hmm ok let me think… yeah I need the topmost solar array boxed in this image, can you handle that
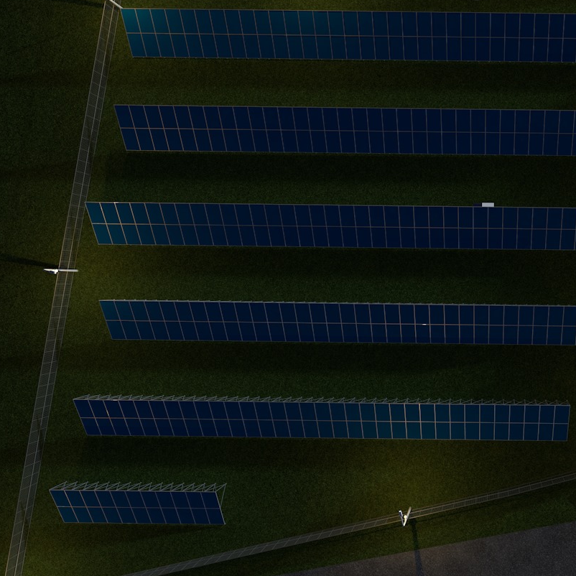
[122,9,576,62]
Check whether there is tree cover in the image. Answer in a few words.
No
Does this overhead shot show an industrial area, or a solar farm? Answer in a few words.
solar farm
